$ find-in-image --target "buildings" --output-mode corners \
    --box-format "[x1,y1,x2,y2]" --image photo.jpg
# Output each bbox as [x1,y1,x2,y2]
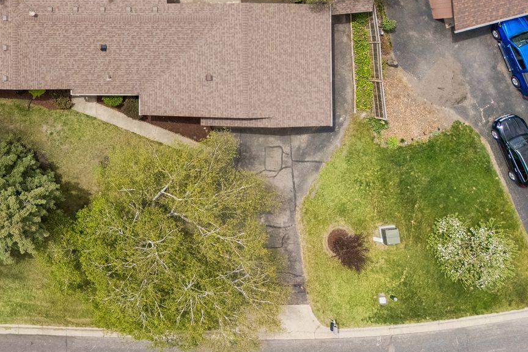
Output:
[0,0,331,127]
[423,0,528,33]
[332,0,375,16]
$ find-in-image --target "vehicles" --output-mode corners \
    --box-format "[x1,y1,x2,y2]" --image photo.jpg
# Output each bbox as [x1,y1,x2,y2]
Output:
[489,17,528,101]
[491,114,528,188]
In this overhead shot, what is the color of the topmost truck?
blue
